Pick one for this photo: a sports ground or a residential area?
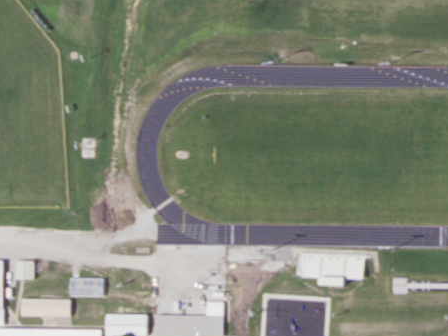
sports ground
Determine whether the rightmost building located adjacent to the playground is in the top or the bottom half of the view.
bottom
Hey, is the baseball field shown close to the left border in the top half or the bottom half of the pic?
top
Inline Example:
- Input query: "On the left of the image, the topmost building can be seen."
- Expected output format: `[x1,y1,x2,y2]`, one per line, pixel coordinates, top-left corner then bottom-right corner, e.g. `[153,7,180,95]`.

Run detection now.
[15,261,34,281]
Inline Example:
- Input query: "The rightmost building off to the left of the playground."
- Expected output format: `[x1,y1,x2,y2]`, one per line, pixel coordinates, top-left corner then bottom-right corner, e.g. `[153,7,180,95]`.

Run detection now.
[154,302,224,336]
